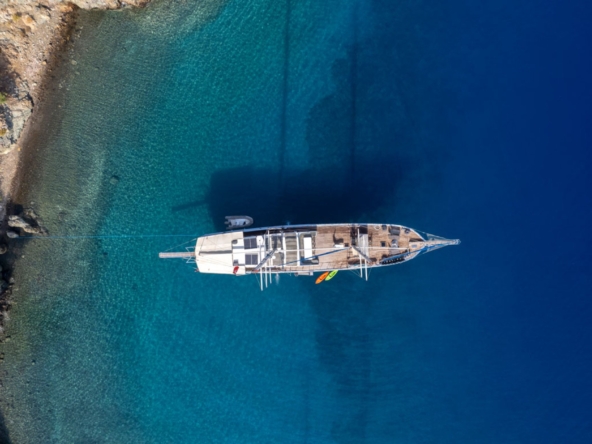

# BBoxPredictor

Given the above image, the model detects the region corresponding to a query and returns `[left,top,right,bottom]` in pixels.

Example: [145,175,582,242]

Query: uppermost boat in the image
[219,214,251,229]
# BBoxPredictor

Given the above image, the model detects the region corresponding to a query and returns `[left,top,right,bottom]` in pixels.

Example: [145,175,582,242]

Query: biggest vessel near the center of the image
[161,223,465,289]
